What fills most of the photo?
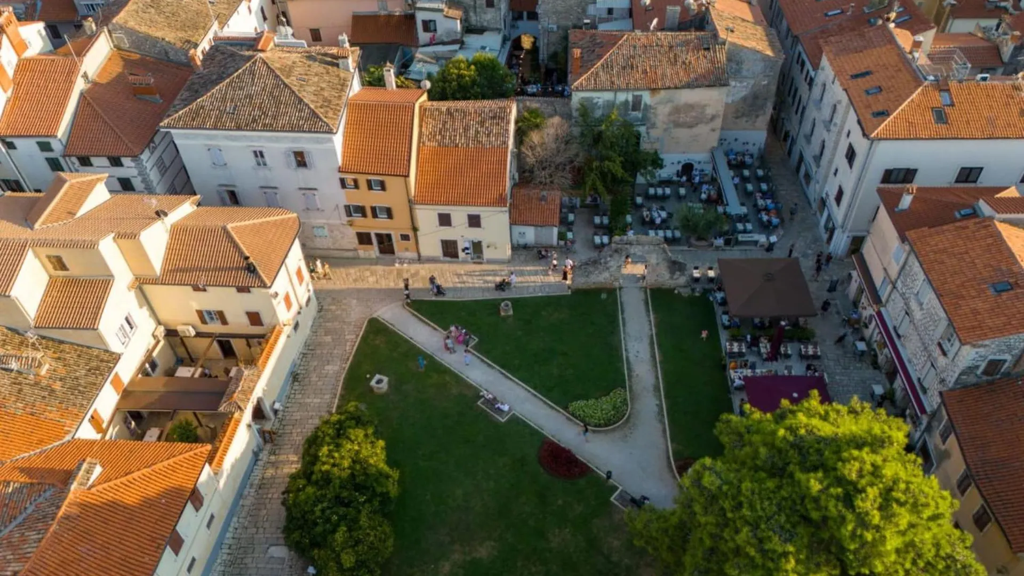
buildings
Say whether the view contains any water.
No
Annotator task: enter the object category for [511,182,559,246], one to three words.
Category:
shed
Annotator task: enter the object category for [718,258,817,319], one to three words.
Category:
umbrella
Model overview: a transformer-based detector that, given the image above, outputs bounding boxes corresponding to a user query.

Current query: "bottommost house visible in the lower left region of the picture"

[0,437,233,576]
